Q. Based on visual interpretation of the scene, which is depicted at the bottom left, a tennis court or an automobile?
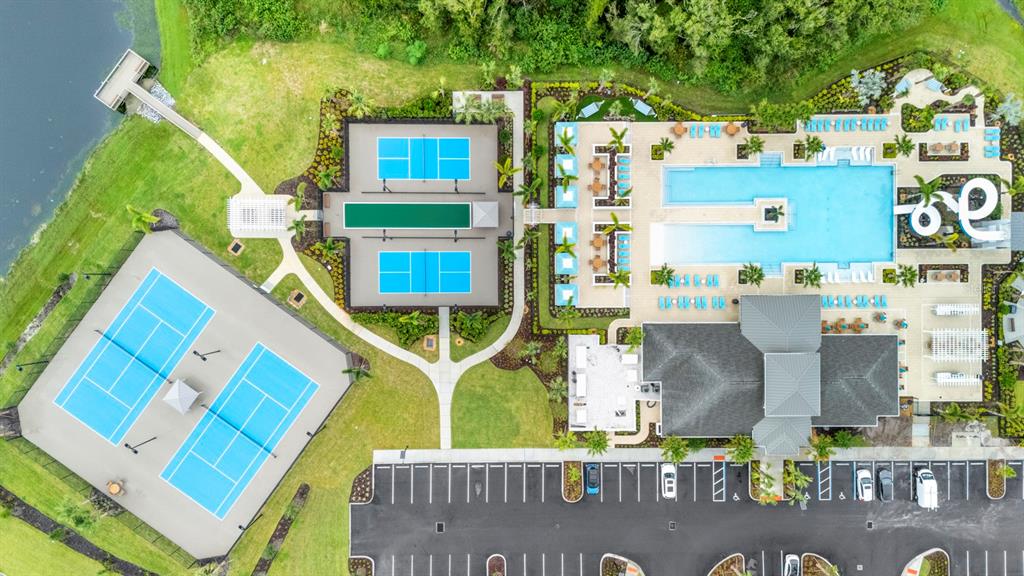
tennis court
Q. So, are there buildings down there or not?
Yes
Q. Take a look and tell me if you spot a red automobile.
No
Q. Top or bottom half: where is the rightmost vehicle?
bottom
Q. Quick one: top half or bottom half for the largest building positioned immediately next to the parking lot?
bottom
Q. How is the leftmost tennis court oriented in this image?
on a diagonal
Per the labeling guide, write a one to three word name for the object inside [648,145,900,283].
swimming pool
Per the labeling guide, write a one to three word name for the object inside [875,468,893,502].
car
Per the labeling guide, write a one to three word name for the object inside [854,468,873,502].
car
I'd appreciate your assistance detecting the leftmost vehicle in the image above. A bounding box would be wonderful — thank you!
[586,463,601,494]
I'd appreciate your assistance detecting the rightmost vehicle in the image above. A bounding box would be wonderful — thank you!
[914,468,939,513]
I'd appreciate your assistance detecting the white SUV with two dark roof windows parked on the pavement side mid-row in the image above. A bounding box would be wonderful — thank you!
[660,463,677,498]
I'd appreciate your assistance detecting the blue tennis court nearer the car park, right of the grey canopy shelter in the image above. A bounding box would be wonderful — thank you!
[160,343,320,520]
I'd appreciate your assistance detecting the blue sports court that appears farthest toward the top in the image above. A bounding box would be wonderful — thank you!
[377,133,470,183]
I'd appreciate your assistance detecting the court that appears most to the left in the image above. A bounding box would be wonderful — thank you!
[53,267,215,446]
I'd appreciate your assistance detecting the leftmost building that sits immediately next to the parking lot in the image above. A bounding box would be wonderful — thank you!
[641,294,899,456]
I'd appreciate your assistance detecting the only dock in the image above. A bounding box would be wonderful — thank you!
[94,49,204,142]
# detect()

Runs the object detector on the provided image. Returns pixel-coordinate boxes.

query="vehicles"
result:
[854,468,873,502]
[914,468,939,513]
[586,463,601,494]
[783,554,800,576]
[660,463,677,498]
[875,468,893,502]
